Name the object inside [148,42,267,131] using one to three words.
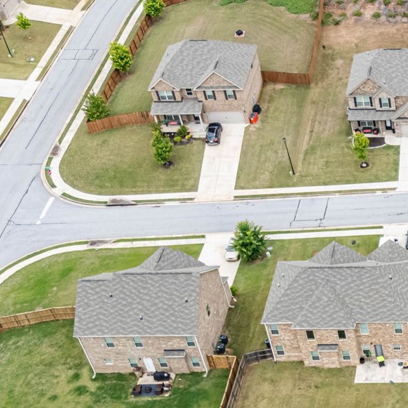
house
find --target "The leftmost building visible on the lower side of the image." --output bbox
[72,245,240,376]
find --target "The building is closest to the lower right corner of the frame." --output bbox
[261,238,408,366]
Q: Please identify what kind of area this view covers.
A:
residential area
